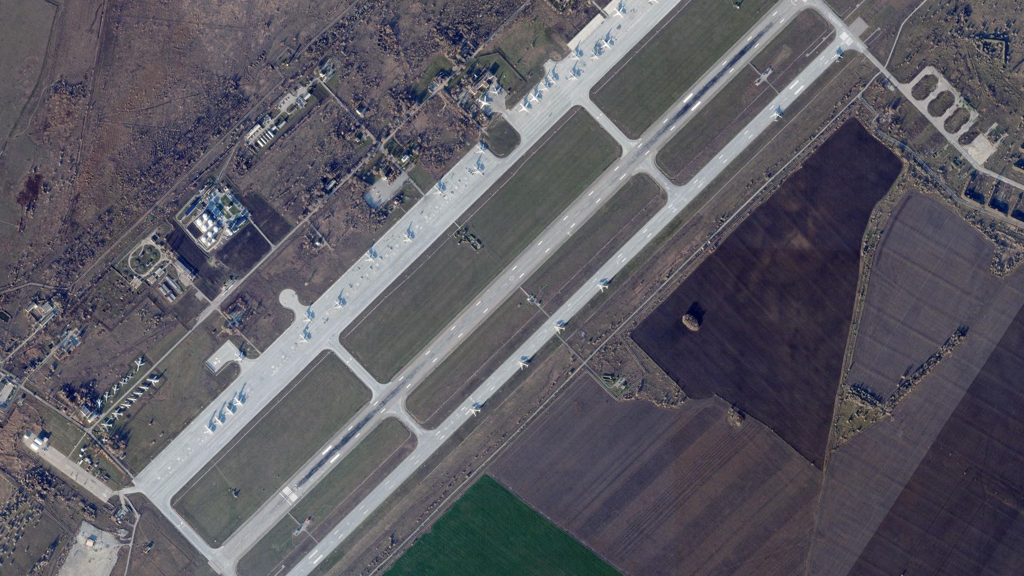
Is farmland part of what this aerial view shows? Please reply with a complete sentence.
Yes, farmland shows up in the scene.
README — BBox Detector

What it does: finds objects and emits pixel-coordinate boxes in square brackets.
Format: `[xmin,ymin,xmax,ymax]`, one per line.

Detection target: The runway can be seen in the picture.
[223,0,811,563]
